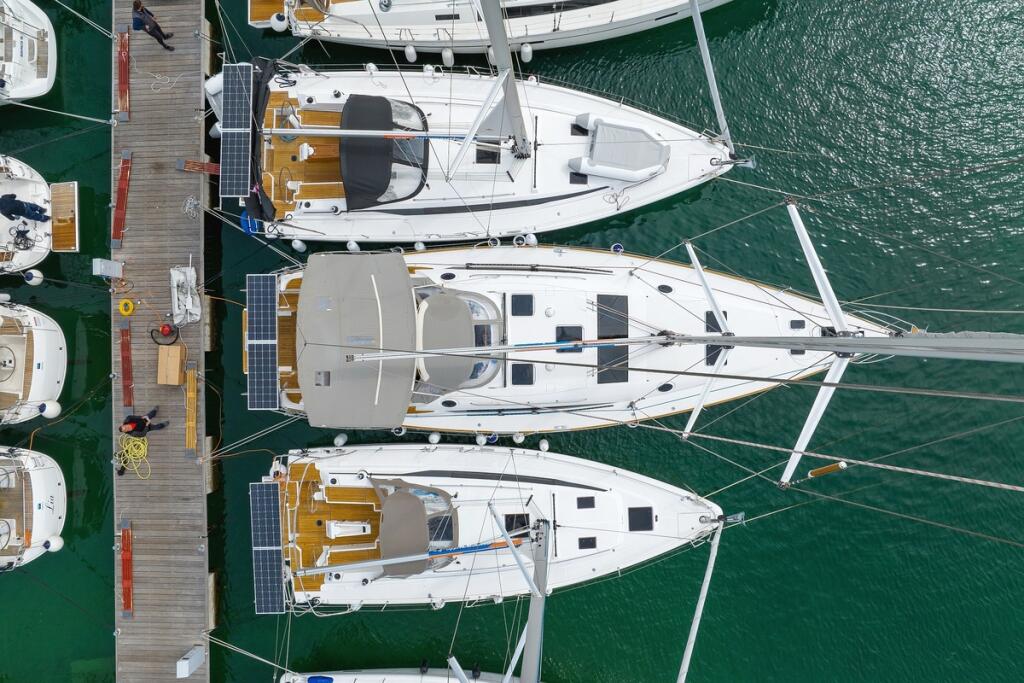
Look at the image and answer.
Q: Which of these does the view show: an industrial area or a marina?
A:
marina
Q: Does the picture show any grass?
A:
No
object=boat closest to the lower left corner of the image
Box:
[0,448,68,570]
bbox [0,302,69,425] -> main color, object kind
white boat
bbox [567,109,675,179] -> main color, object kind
white boat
